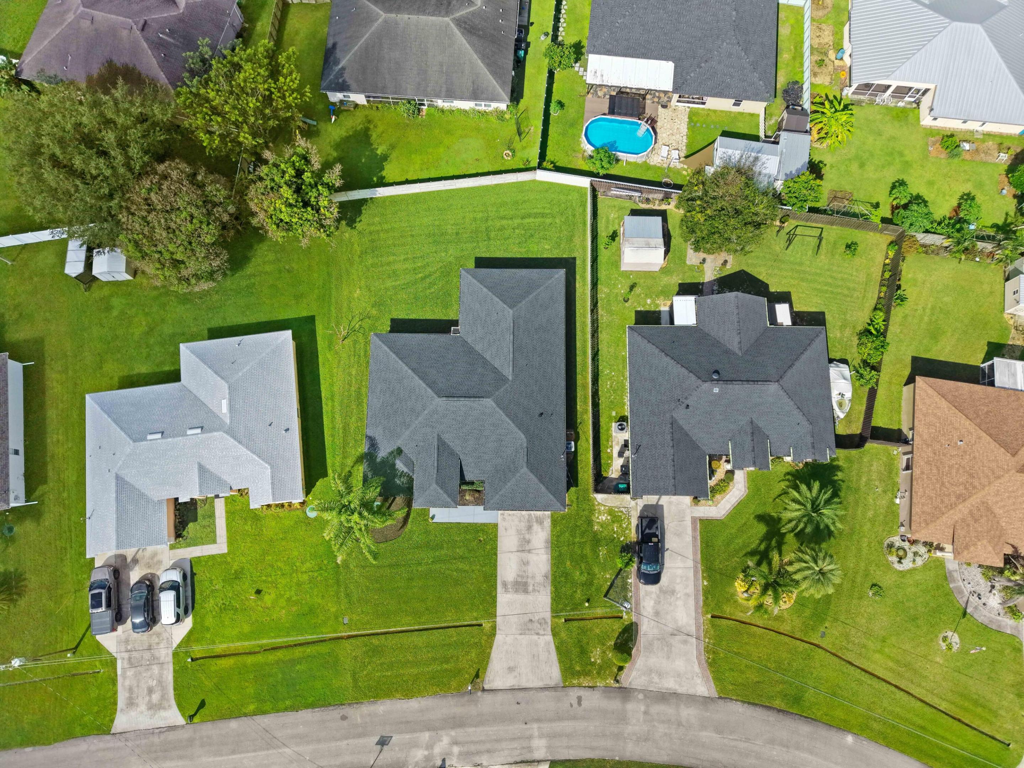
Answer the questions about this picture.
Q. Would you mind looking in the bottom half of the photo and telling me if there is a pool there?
No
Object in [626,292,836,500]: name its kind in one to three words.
house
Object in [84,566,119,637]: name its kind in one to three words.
truck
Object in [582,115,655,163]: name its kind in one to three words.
swimming pool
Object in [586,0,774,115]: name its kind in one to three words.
house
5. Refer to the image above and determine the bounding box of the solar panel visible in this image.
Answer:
[608,96,640,118]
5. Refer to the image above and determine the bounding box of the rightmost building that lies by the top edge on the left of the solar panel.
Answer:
[319,0,518,111]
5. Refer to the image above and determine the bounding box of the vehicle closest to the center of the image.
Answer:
[635,516,664,584]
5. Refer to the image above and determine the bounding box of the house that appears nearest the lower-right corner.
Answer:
[900,357,1024,568]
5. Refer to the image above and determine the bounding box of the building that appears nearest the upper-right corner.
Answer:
[845,0,1024,139]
